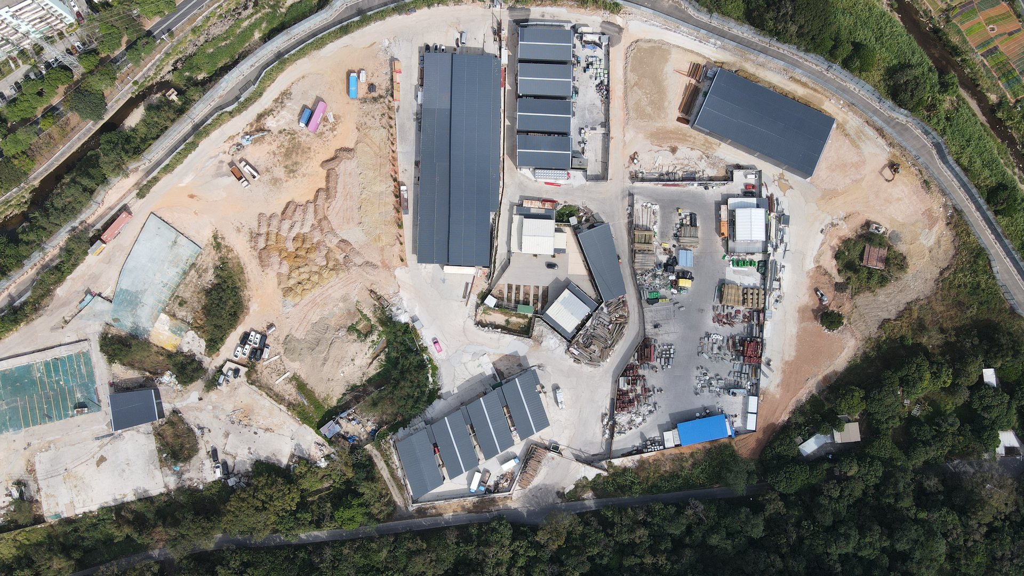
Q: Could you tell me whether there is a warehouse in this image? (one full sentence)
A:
Yes, a warehouse appears in the view.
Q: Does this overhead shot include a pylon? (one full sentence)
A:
Yes, a pylon is visible in the scene.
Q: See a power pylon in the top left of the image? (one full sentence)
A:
Yes, there is a power pylon in the top left of the image.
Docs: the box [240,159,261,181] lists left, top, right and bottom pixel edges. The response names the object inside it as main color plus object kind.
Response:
white truck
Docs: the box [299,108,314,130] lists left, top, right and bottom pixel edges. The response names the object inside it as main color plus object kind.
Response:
blue vehicle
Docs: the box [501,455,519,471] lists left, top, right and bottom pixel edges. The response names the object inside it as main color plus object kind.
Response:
white vehicle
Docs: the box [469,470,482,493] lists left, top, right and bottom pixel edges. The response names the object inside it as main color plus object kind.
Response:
white vehicle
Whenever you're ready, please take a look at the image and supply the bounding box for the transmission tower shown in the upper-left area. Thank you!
[22,33,87,80]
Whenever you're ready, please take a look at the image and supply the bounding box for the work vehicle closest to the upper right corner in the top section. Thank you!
[878,162,905,177]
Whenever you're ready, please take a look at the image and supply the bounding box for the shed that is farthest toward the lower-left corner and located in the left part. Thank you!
[109,389,164,431]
